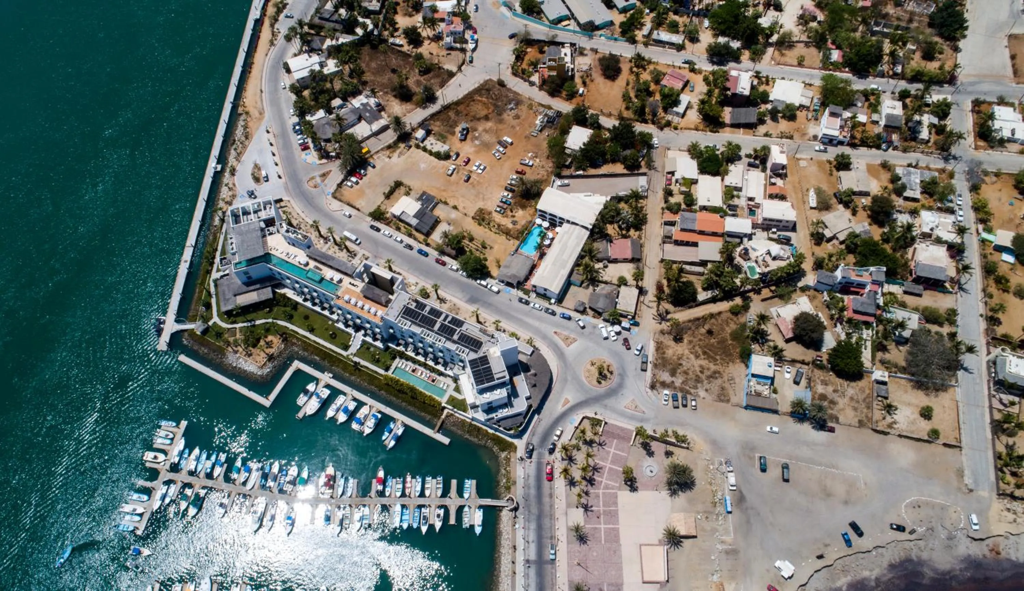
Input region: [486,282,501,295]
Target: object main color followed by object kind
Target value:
white vehicle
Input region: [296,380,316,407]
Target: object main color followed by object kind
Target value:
white boat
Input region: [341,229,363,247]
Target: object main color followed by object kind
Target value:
white vehicle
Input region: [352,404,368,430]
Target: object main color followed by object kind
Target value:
white boat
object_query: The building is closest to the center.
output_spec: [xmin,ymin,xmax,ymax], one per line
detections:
[496,252,535,289]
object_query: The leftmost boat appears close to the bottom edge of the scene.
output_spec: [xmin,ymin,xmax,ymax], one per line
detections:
[54,546,73,568]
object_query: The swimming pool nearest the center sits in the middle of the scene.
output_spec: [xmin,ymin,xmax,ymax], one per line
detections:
[520,225,545,255]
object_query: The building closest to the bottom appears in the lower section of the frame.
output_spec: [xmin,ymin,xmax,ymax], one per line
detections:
[667,512,697,537]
